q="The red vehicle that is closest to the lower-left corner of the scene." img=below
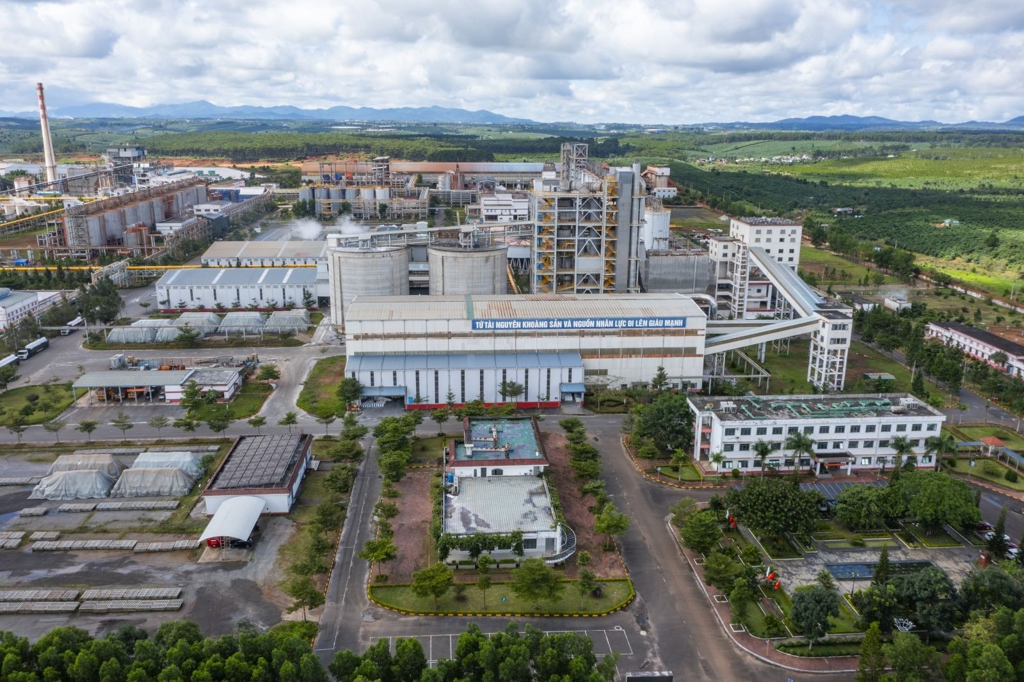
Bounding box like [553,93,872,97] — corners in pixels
[205,536,223,550]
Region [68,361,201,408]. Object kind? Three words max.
shed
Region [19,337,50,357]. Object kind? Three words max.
vehicle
